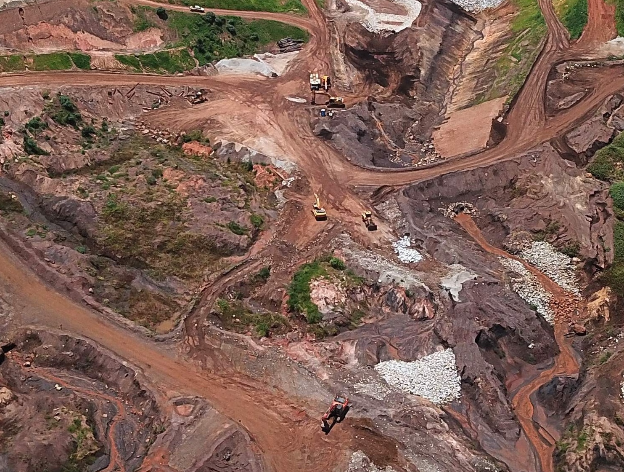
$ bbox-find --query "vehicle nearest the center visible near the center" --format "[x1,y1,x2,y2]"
[313,186,326,221]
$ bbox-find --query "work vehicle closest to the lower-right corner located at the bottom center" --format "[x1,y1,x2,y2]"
[317,391,354,434]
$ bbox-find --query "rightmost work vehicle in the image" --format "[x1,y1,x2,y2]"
[361,207,376,231]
